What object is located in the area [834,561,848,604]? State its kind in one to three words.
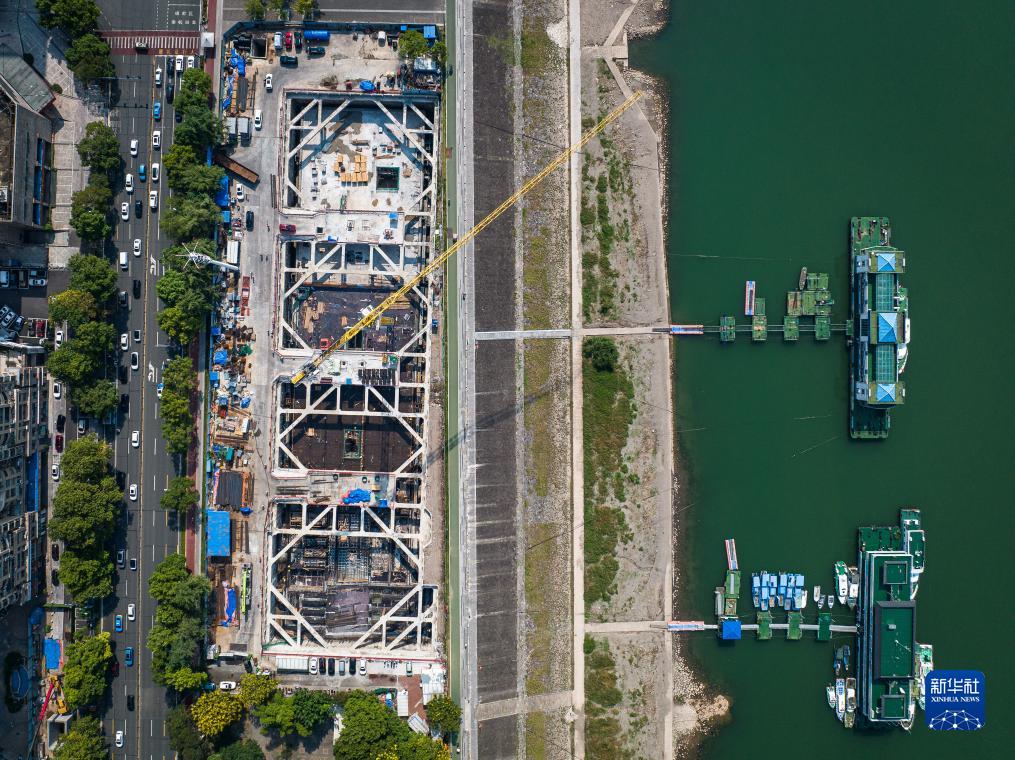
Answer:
boat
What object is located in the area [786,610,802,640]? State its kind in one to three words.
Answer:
pier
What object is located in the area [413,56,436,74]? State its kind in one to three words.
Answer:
shed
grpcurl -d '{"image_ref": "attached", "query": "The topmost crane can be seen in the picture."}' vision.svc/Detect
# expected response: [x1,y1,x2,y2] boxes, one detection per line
[283,91,641,388]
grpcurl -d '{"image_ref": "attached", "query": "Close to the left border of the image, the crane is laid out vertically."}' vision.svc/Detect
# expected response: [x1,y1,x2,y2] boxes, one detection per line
[40,675,71,760]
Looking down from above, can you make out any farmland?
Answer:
No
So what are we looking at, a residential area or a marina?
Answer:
marina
